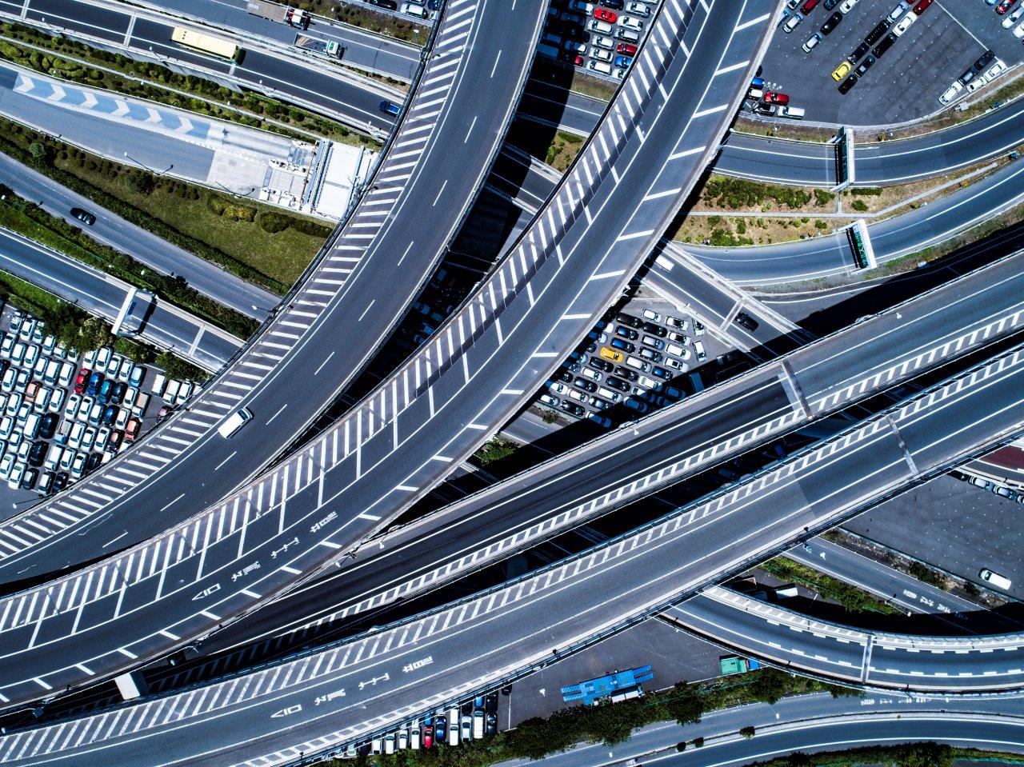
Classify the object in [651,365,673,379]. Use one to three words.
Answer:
car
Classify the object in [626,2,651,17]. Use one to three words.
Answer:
car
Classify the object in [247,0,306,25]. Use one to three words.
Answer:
truck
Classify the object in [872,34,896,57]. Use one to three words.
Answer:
vehicle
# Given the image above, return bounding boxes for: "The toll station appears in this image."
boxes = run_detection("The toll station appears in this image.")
[257,138,377,222]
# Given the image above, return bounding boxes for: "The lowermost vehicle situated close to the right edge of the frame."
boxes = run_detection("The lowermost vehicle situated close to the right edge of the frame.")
[978,567,1013,589]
